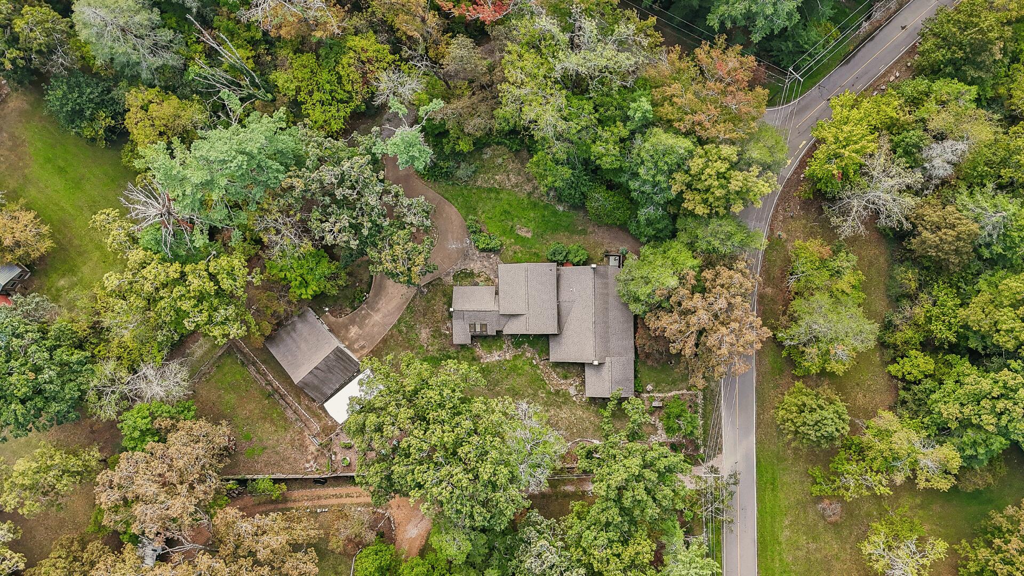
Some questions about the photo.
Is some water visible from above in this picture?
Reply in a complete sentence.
No, there's no water in this view.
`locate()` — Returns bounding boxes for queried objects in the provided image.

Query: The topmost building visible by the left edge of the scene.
[0,259,36,290]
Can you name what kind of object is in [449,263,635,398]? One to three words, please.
house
